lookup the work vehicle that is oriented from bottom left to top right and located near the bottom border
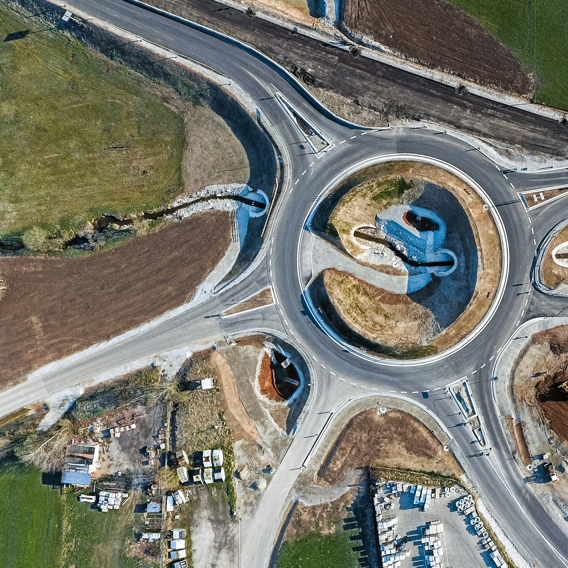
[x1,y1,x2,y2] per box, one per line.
[397,536,412,552]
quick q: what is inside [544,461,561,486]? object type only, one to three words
work vehicle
